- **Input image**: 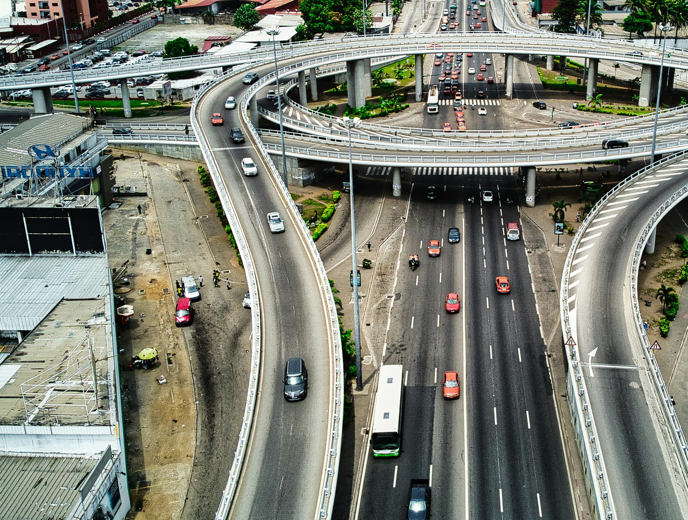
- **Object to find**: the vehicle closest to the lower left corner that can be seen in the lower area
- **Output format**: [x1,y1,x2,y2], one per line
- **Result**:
[169,300,195,329]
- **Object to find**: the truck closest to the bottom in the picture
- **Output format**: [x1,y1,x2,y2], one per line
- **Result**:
[403,476,430,520]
